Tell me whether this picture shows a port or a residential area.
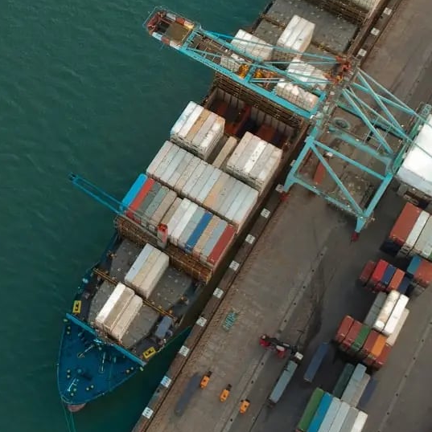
port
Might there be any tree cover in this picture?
No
